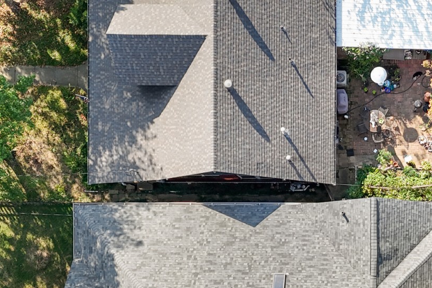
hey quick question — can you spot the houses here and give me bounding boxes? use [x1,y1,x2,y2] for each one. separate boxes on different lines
[86,0,339,188]
[64,195,432,288]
